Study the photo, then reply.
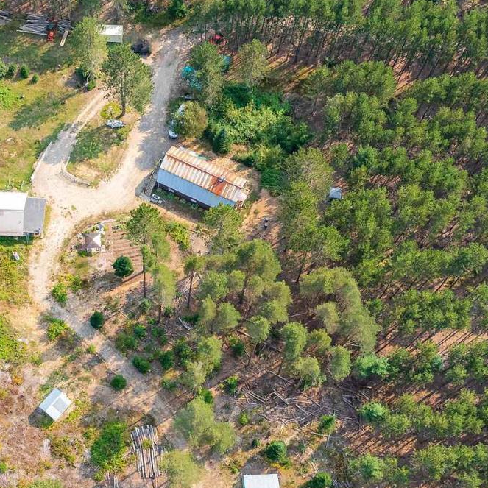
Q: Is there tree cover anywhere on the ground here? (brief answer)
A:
Yes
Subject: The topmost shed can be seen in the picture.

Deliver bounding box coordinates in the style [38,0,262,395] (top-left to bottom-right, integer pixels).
[99,24,122,51]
